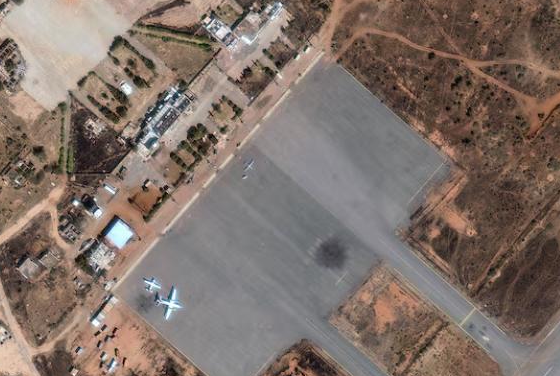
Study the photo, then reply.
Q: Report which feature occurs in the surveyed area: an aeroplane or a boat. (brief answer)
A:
aeroplane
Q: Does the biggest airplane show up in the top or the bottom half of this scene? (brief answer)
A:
bottom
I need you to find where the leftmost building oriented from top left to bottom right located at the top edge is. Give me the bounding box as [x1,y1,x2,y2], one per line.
[200,16,238,48]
